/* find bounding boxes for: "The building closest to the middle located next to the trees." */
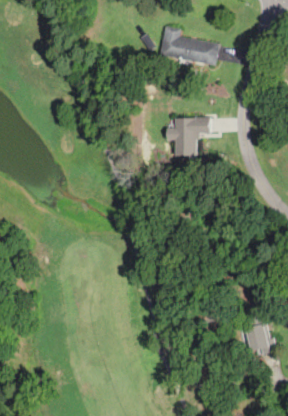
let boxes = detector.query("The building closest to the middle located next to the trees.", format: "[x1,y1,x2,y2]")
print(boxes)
[166,116,212,155]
